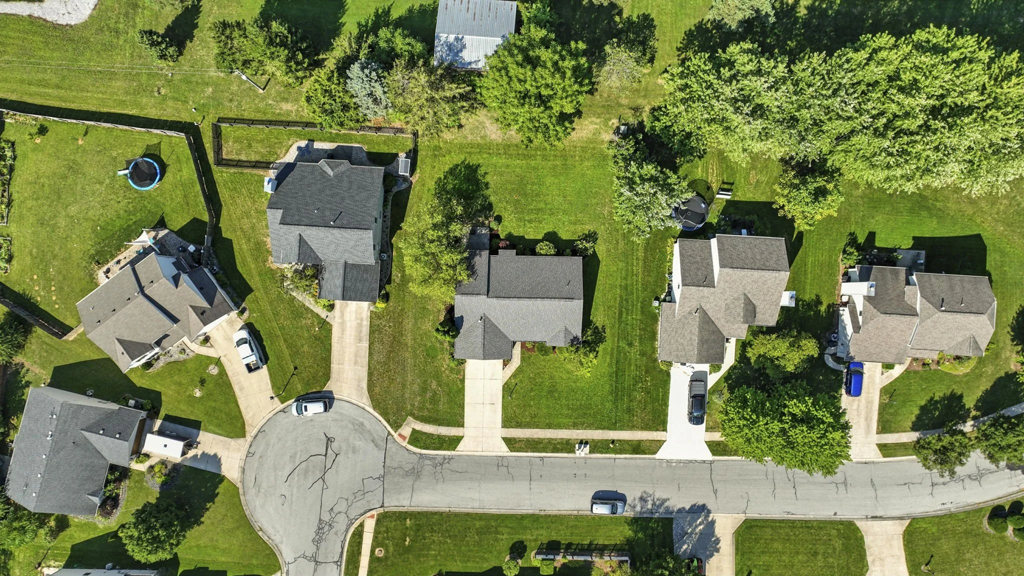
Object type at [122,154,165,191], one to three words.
trampoline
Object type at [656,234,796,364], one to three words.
house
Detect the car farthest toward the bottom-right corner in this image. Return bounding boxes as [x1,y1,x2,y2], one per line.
[843,361,864,397]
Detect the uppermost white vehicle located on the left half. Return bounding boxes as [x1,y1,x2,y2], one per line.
[234,326,264,375]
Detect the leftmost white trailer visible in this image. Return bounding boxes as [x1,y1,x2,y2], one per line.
[143,430,202,457]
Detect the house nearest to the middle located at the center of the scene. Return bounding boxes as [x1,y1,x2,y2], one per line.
[453,249,583,360]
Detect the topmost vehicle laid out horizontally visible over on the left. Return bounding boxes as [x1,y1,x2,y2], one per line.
[290,398,332,418]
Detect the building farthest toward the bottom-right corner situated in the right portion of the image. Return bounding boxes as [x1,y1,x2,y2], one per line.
[835,265,996,364]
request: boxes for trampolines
[122,154,165,191]
[676,196,709,232]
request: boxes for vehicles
[687,379,707,425]
[290,398,332,418]
[234,326,264,375]
[688,556,703,569]
[589,497,626,517]
[843,361,864,397]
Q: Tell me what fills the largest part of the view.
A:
grass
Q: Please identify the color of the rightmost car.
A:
blue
